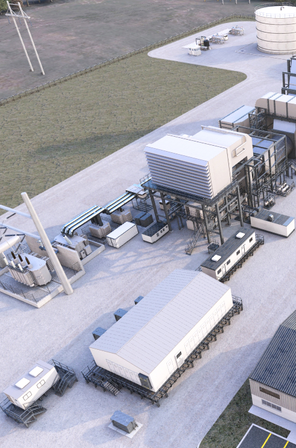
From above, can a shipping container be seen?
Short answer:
Yes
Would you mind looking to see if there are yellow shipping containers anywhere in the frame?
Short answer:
No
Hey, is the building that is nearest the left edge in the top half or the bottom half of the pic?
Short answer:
bottom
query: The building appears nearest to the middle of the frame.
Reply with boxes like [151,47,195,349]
[141,221,168,244]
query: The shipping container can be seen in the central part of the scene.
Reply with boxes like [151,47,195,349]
[106,221,138,248]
